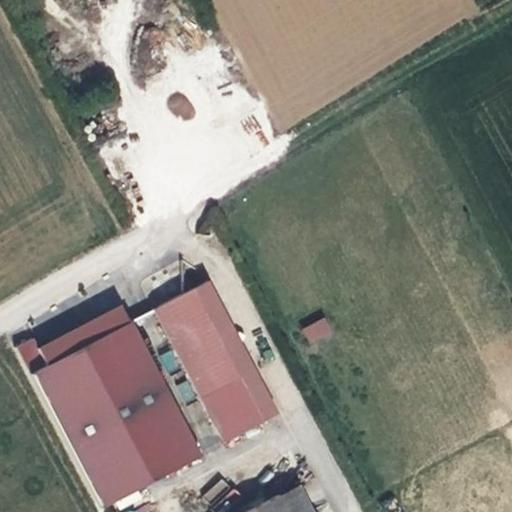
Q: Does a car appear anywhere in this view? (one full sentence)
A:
Yes, you can see a car in this photo.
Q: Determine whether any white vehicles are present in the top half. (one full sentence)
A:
No, no white vehicle is visible in the top half.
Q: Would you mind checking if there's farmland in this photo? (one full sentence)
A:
Yes, the picture does contain farmland.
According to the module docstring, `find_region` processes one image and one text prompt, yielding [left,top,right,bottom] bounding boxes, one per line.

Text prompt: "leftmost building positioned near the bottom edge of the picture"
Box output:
[36,322,204,508]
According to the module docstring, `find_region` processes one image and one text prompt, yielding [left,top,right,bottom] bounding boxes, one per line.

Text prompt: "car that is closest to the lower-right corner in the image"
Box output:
[257,468,278,487]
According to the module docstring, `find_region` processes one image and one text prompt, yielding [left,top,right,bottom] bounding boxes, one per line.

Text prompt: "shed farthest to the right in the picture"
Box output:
[302,318,332,345]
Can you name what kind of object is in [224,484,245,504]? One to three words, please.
car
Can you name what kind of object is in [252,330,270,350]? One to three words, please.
work vehicle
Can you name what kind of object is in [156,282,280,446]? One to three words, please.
barn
